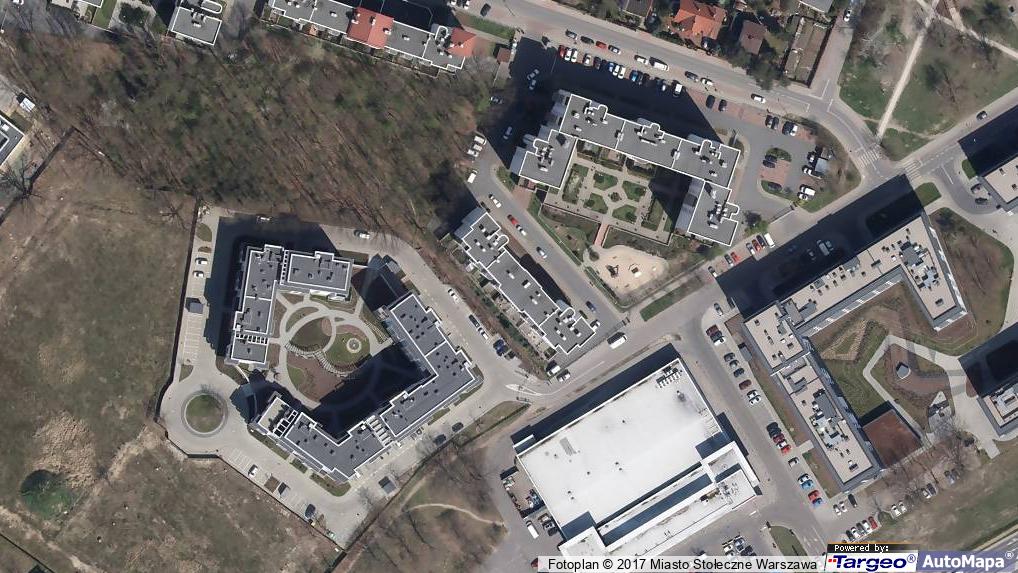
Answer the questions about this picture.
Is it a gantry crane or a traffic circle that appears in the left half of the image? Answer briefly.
traffic circle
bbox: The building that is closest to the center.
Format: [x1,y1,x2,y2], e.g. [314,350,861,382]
[454,211,595,353]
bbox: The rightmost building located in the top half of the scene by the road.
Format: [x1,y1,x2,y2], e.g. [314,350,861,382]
[978,156,1018,213]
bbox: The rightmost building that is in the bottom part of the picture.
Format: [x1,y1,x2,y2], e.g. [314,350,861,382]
[976,375,1018,435]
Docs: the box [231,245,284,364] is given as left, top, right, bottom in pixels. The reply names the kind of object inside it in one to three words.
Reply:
building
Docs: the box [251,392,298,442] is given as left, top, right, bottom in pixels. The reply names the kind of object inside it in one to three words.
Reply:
building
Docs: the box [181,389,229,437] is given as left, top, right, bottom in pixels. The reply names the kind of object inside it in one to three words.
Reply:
roundabout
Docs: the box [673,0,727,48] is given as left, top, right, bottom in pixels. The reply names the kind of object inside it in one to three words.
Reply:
house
